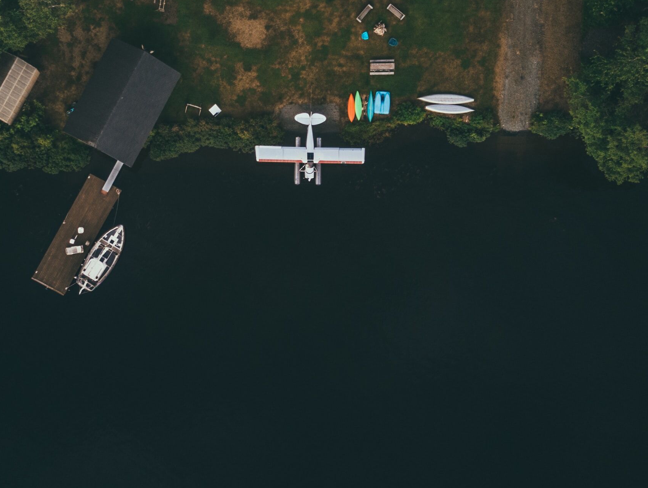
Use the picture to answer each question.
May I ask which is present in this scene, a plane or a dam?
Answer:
plane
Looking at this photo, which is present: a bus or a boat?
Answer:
boat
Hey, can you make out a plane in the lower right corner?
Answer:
No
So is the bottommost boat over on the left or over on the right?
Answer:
left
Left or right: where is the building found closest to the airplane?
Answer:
left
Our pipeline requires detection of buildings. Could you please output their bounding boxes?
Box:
[63,38,181,167]
[0,52,43,124]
